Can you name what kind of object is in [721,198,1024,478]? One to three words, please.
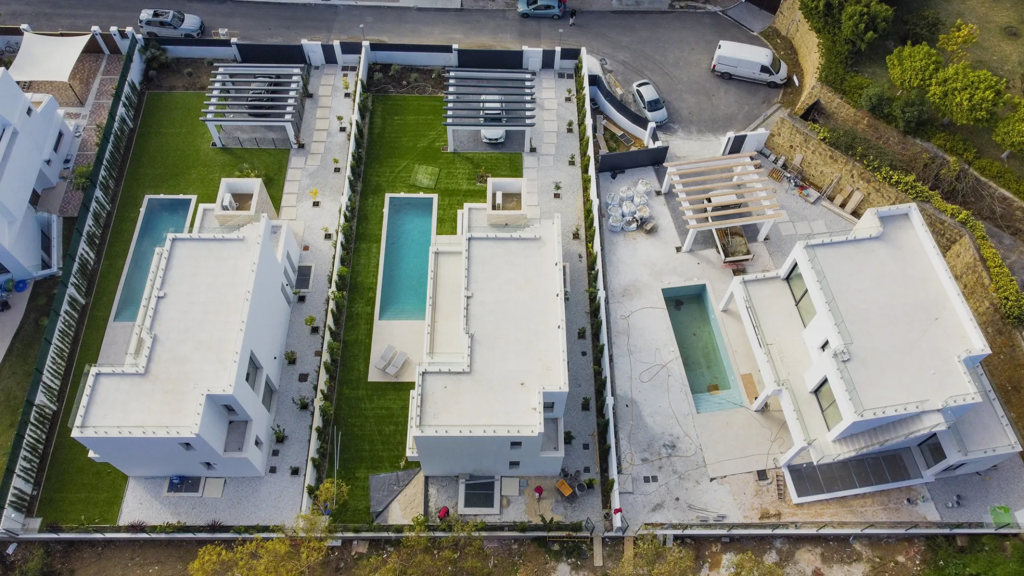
house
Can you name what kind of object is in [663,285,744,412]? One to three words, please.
swimming pool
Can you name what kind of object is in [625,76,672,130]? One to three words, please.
car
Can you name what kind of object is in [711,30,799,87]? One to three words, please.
van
